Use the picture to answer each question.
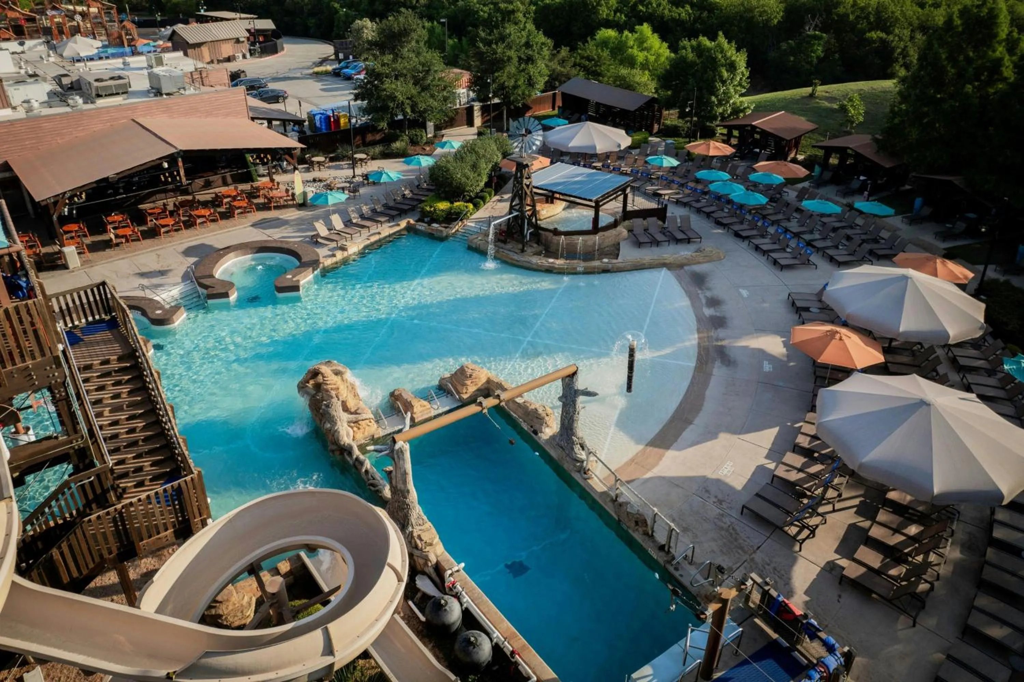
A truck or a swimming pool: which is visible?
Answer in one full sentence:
Of the two, only a swimming pool appears.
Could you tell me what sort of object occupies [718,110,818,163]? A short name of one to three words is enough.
gazebo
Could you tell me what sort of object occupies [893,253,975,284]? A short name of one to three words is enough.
umbrella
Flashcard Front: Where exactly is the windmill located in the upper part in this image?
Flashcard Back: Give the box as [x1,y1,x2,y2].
[507,115,547,249]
